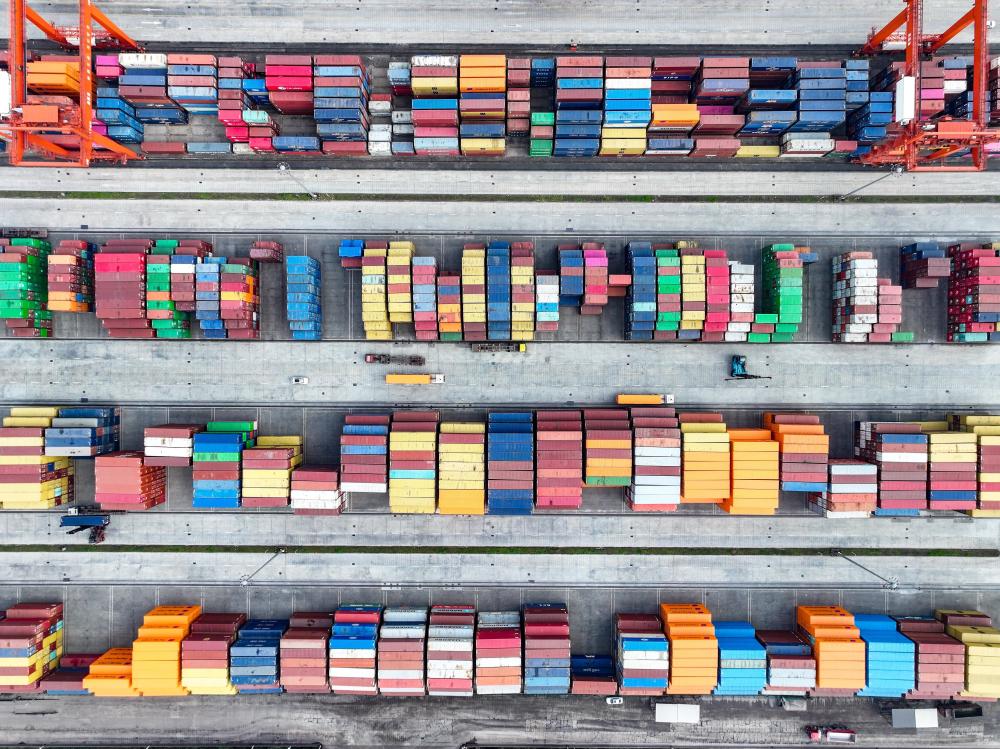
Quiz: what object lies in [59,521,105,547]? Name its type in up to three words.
work vehicle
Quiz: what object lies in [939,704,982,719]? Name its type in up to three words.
vehicle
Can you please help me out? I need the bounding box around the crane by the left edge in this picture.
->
[0,0,147,163]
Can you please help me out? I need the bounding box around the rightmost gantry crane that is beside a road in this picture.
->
[849,0,1000,168]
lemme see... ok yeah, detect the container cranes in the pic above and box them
[0,0,147,163]
[849,0,1000,168]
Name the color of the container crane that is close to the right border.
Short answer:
red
